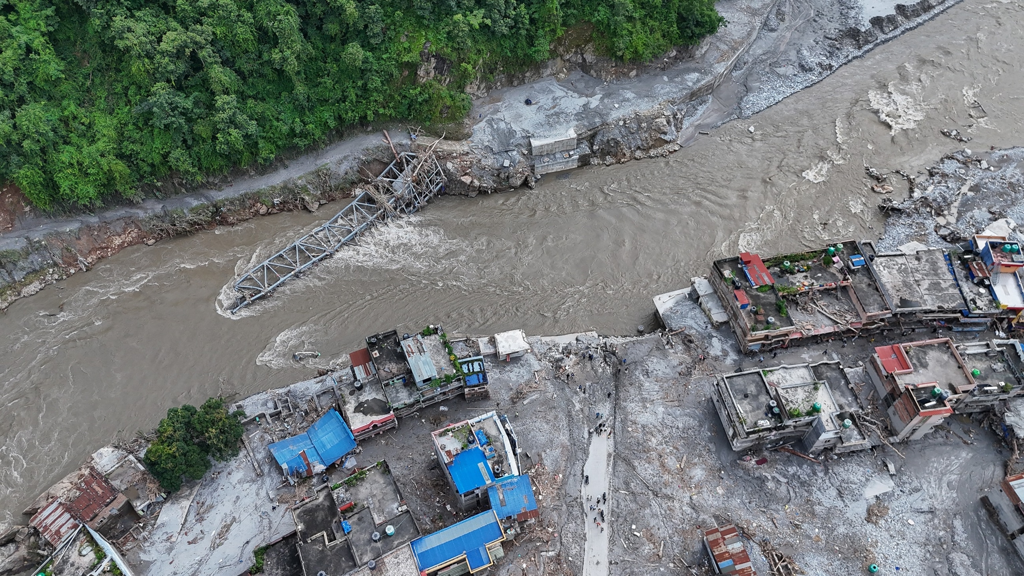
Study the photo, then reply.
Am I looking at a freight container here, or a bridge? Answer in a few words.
bridge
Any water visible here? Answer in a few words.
Yes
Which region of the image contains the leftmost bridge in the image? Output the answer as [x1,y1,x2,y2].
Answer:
[230,151,447,314]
